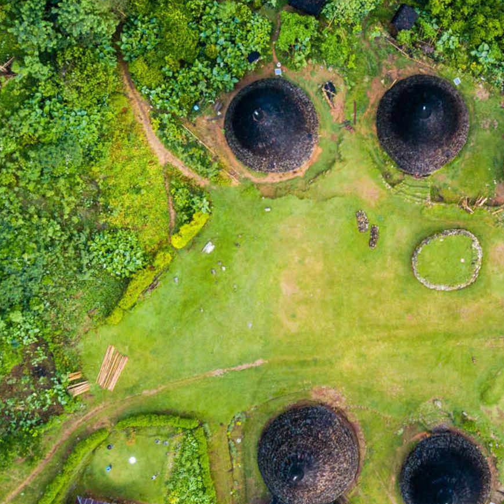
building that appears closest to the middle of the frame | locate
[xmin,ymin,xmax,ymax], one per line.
[223,78,319,173]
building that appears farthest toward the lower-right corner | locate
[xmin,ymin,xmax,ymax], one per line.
[399,430,491,504]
